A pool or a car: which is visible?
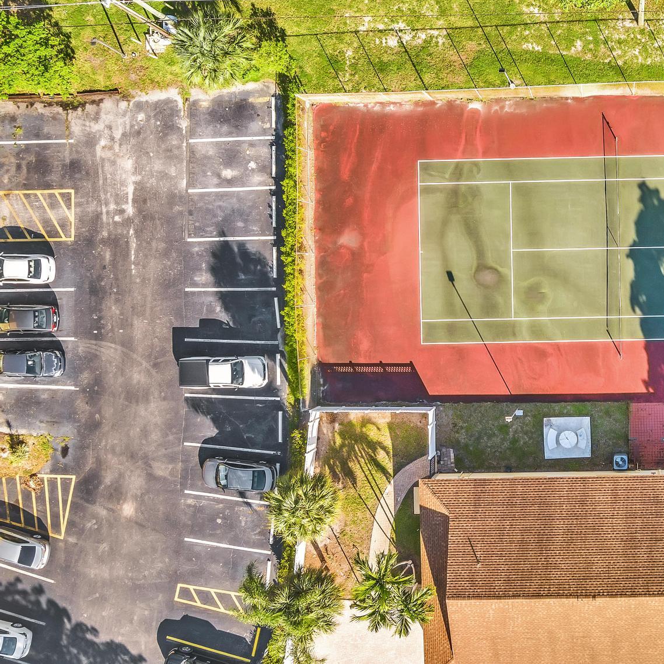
car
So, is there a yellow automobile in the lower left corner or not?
No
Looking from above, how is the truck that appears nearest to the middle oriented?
from side to side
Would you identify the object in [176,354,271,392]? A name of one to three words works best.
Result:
truck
